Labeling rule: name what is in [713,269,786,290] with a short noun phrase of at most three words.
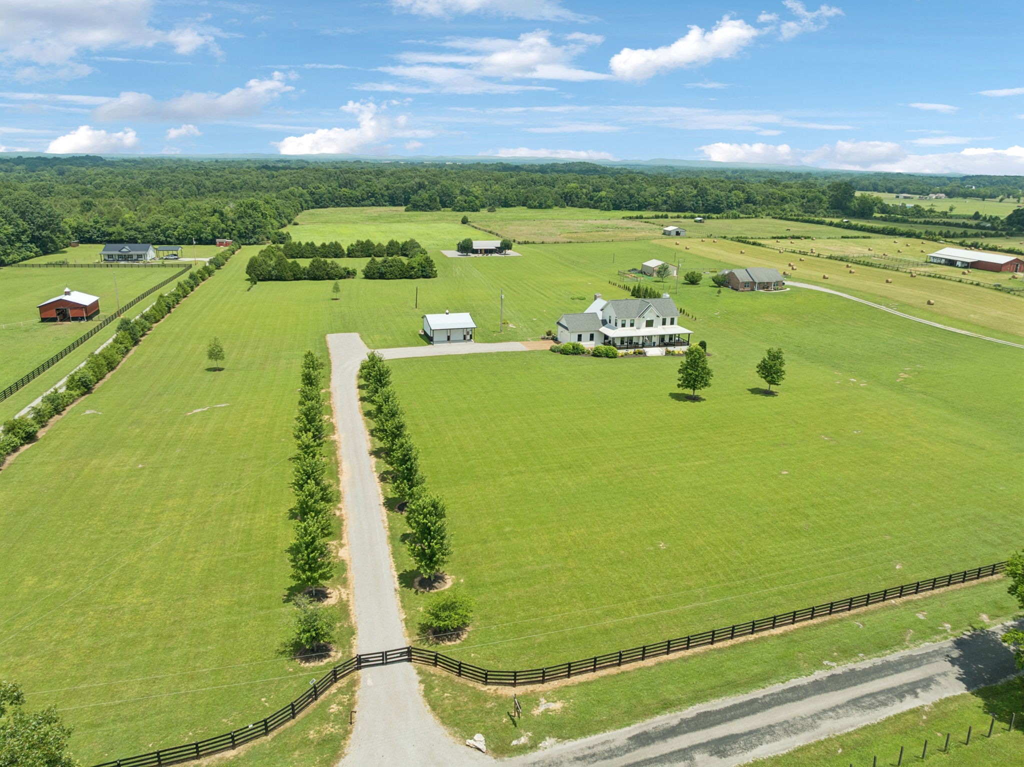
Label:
house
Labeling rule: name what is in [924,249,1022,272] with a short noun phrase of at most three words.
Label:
barn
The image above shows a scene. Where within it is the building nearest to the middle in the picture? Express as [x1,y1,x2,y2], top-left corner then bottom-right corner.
[421,308,478,345]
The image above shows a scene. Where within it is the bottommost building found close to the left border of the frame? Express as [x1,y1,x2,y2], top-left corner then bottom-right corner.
[37,287,101,322]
